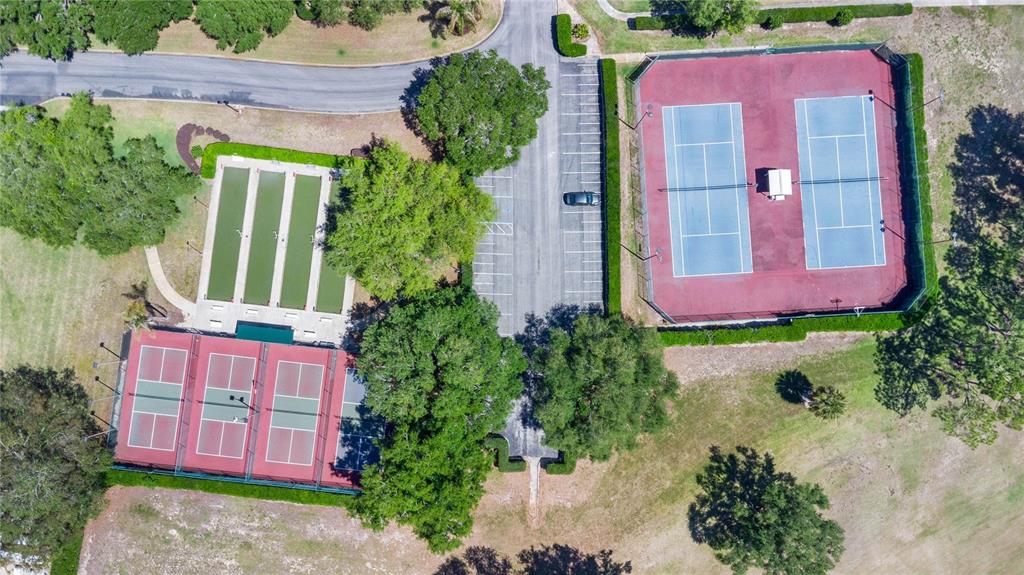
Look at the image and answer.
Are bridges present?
No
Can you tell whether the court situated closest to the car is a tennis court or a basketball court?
tennis court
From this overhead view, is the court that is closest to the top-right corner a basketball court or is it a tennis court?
tennis court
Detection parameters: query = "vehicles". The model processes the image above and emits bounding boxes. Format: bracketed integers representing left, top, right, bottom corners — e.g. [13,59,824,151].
[564,190,600,206]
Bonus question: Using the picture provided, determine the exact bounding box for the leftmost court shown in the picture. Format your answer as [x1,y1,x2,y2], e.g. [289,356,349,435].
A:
[127,345,187,451]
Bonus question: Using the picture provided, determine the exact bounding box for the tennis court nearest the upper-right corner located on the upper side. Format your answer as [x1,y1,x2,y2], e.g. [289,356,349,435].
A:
[794,95,886,269]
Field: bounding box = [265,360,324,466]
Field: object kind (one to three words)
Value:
sports court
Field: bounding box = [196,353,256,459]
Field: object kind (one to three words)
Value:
sports court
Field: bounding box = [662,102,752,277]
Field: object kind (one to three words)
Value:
tennis court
